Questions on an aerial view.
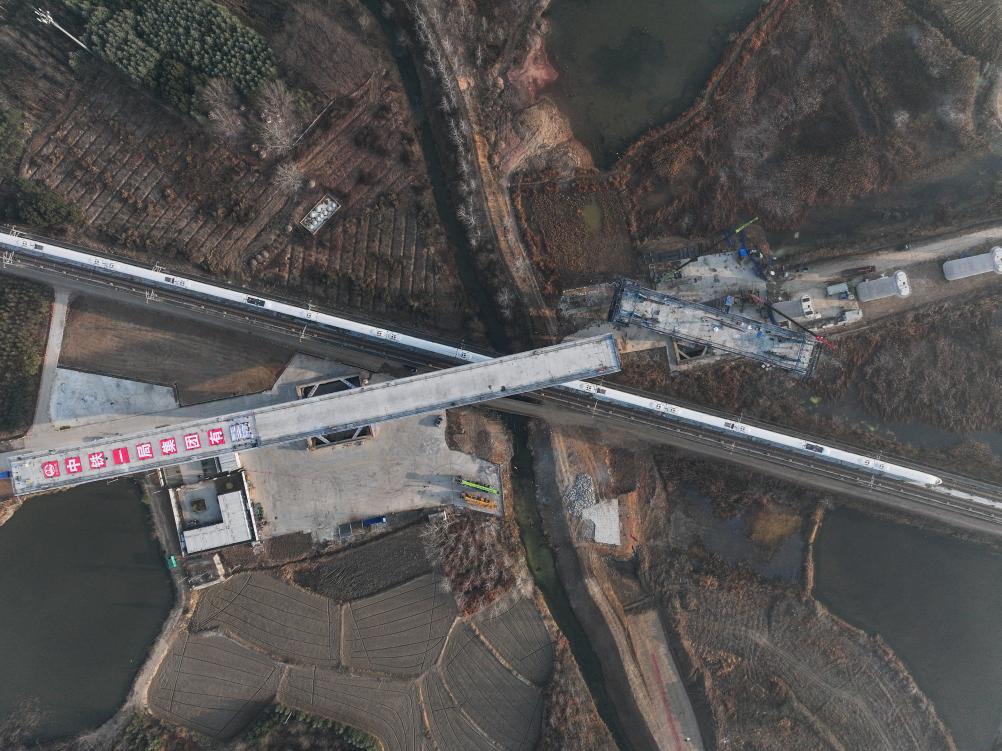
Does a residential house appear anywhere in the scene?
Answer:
Yes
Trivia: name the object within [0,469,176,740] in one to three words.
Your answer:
pond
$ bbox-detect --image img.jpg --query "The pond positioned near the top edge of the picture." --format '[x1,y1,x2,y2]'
[540,0,769,171]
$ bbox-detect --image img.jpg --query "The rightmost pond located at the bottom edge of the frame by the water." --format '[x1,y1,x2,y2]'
[812,497,1002,751]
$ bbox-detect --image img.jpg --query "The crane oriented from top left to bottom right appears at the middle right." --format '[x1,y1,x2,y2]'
[745,289,835,350]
